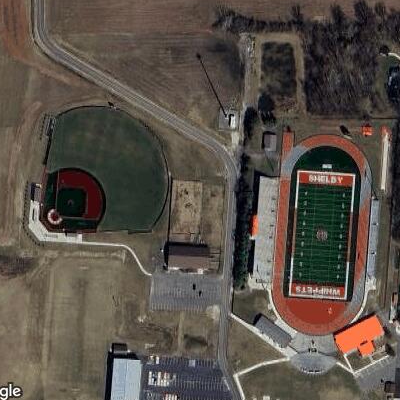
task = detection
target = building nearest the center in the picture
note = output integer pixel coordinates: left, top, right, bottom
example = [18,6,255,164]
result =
[166,245,210,271]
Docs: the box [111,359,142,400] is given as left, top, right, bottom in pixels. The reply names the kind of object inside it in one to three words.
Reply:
building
